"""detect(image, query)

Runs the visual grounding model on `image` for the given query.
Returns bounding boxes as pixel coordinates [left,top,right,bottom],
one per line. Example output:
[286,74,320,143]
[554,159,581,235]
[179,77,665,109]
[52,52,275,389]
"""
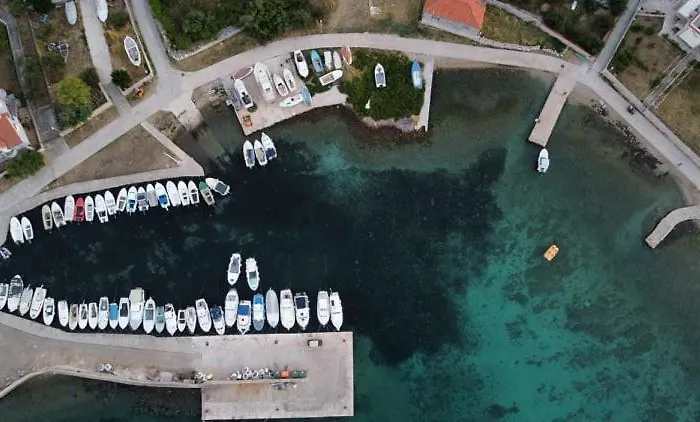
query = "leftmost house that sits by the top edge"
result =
[420,0,488,38]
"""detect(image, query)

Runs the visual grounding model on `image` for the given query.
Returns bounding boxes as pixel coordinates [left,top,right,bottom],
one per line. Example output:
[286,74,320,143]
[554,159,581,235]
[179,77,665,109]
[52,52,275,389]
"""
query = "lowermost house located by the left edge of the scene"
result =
[0,106,36,170]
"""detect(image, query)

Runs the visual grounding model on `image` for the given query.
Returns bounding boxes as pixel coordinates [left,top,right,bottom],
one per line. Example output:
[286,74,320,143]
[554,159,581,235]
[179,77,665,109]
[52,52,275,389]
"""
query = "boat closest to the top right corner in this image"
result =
[537,148,549,172]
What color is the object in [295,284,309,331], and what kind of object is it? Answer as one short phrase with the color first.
white boat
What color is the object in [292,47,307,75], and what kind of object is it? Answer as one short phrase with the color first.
white boat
